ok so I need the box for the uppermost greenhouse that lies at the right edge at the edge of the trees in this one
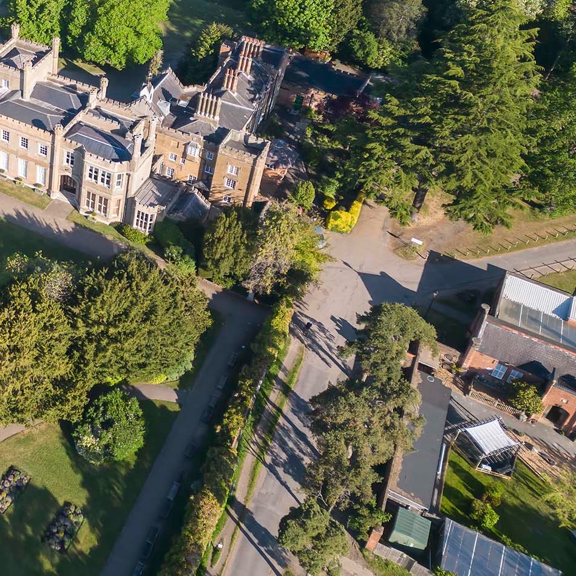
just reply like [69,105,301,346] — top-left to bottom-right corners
[489,265,576,347]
